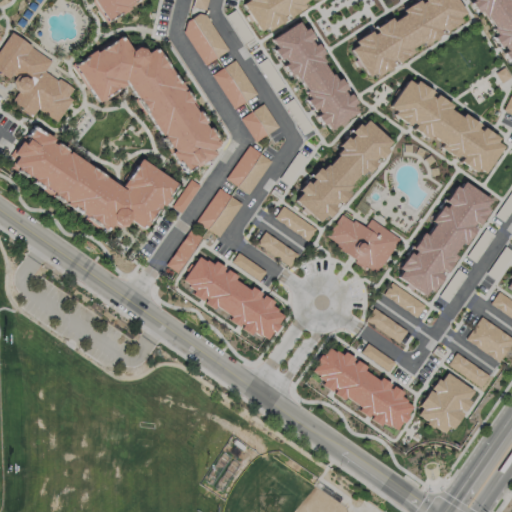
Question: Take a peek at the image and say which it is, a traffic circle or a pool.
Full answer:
There is a pool in the scene.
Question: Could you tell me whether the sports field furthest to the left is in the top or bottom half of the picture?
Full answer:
The sports field furthest to the left sits in the bottom half of the picture.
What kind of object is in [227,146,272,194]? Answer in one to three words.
building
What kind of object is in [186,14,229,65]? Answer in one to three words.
building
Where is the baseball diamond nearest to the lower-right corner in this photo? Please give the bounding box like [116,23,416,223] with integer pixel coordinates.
[226,450,349,512]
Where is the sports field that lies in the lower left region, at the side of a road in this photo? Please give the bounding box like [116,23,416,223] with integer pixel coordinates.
[3,312,256,512]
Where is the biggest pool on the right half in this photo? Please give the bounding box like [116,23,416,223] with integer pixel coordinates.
[366,160,438,230]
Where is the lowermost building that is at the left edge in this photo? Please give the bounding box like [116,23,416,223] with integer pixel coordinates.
[14,132,180,230]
